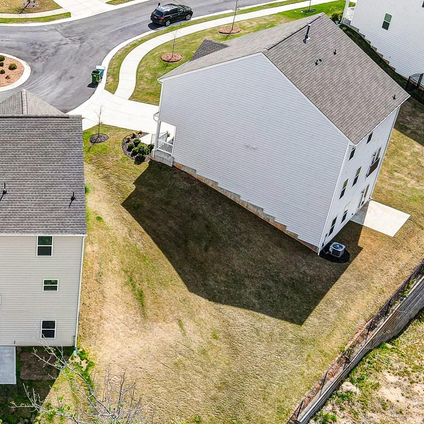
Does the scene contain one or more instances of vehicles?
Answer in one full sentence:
Yes, the image includes a vehicle.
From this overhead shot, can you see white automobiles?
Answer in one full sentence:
No, no white automobile is visible in the scene.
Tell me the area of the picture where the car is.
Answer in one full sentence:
Look in the top portion of the view to spot the car.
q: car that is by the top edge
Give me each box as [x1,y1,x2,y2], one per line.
[149,2,195,26]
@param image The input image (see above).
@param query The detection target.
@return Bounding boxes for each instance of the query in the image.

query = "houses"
[0,87,88,349]
[147,10,411,254]
[341,0,424,87]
